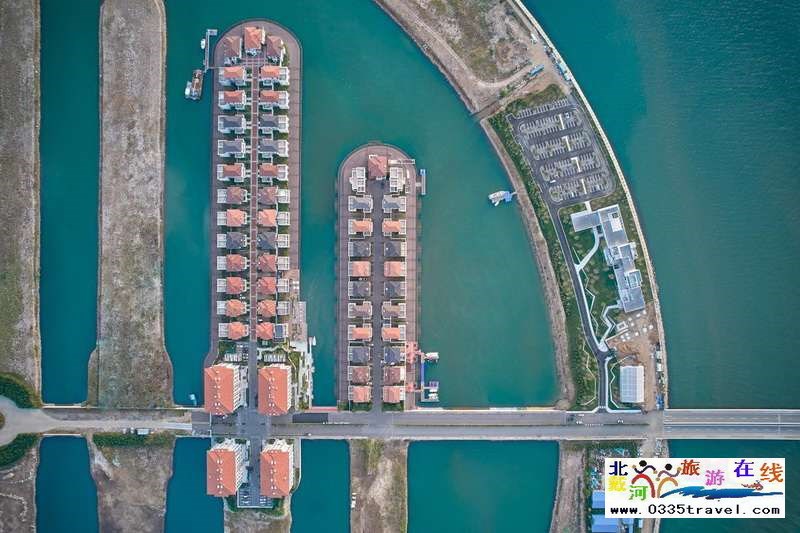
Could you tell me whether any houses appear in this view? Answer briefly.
Yes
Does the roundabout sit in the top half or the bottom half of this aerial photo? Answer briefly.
bottom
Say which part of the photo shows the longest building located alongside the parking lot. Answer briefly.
right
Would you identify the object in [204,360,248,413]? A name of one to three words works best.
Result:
building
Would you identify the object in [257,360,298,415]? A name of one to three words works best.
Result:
building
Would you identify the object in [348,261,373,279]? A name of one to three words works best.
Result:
house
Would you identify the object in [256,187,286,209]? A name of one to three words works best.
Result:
house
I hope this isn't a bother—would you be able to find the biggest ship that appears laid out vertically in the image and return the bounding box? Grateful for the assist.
[191,70,205,99]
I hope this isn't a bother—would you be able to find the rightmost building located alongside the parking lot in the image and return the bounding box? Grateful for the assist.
[570,204,645,313]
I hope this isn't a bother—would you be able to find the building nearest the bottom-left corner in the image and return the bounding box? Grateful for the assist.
[205,438,250,495]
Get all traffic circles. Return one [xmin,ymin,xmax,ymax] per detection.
[0,396,55,445]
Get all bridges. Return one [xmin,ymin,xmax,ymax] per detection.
[667,410,800,442]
